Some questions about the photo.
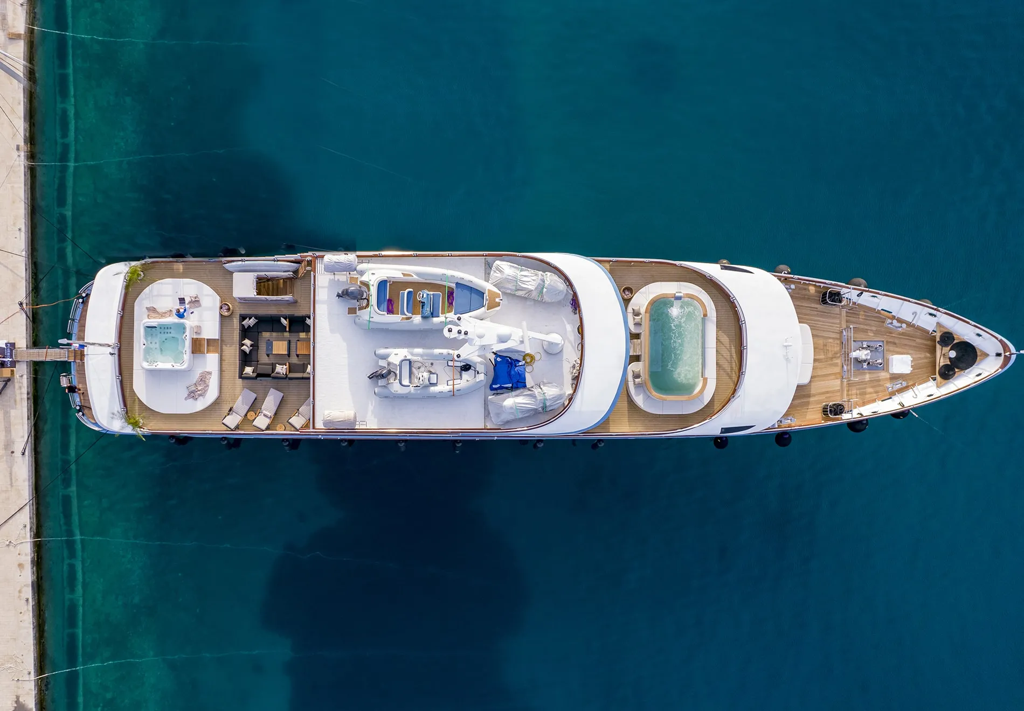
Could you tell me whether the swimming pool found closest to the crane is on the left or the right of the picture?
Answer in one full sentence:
The swimming pool found closest to the crane is on the right side of the image.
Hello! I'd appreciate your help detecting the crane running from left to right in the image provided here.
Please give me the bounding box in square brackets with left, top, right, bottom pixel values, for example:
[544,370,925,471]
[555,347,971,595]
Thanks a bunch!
[444,315,566,360]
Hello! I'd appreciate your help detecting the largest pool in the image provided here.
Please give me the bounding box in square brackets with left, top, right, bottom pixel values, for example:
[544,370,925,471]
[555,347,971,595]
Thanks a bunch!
[627,281,717,416]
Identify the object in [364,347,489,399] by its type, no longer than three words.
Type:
boat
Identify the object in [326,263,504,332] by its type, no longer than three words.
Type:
boat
